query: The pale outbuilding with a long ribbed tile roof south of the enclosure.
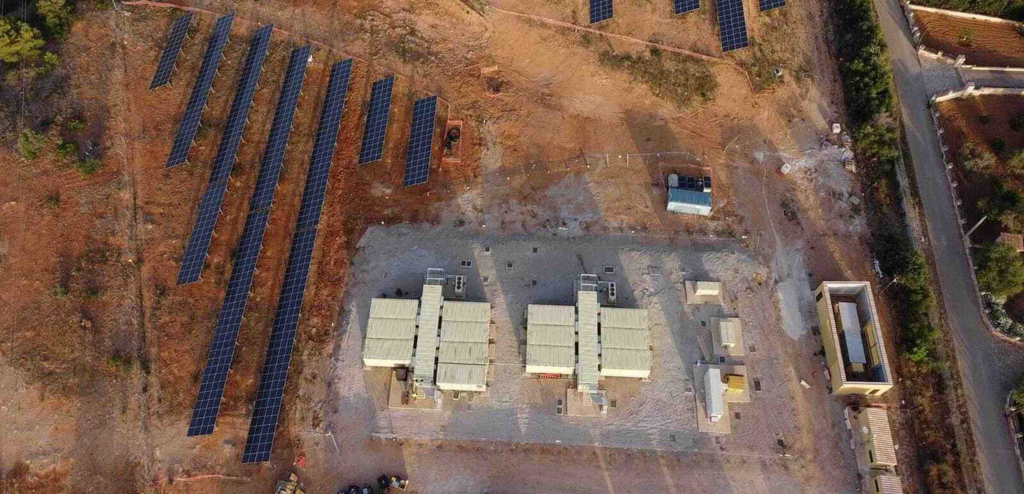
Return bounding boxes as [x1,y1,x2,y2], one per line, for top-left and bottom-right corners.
[860,409,897,469]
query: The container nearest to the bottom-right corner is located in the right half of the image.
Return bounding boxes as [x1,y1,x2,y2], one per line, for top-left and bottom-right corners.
[833,302,868,377]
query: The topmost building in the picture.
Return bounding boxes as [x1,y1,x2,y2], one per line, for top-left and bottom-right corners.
[667,189,711,215]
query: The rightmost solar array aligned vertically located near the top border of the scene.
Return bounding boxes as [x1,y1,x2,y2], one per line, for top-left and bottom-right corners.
[716,0,748,53]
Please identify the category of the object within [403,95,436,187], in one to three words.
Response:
solar array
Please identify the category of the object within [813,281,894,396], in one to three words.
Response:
building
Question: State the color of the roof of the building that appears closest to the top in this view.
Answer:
blue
